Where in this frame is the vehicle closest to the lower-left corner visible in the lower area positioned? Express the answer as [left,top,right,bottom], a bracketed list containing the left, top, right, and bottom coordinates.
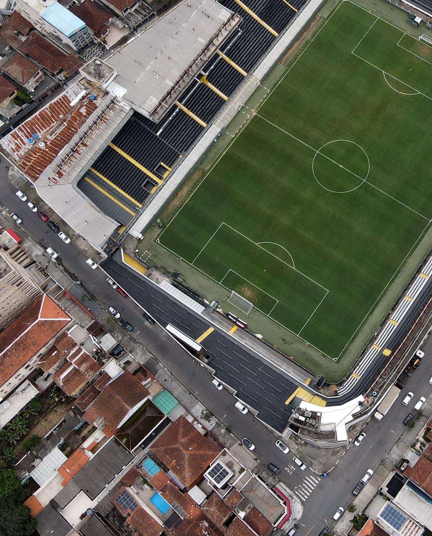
[110,343,125,358]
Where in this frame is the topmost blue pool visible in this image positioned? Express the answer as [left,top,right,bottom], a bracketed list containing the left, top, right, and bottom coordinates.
[141,458,163,478]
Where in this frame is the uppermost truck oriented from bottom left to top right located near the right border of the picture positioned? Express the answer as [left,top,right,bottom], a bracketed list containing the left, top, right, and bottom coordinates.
[401,348,426,382]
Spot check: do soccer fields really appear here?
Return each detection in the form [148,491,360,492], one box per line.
[137,0,432,381]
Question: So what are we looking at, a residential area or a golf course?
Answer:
residential area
